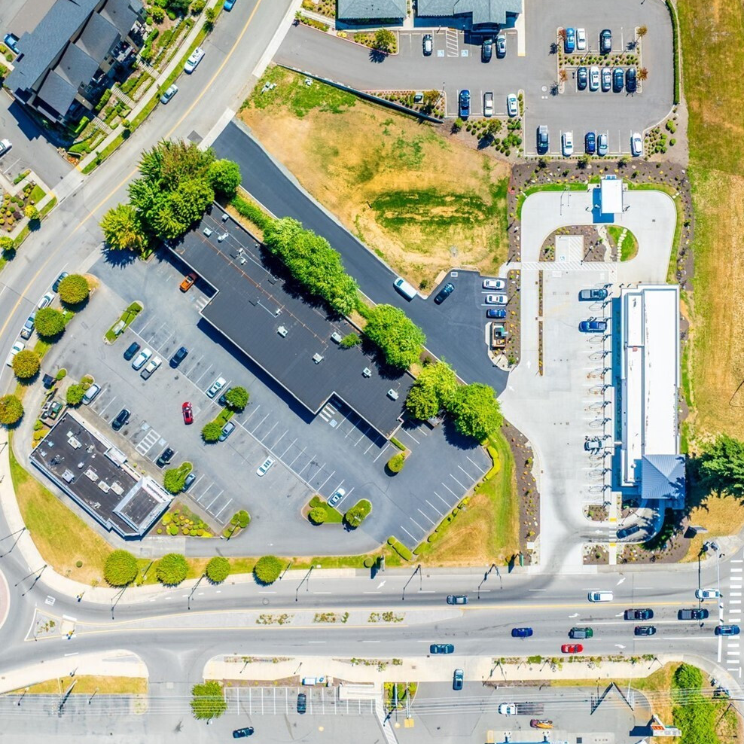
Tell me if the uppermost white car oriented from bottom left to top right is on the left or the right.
left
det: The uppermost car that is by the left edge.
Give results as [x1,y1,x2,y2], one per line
[1,32,18,51]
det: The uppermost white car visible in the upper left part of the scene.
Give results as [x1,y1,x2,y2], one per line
[185,47,205,71]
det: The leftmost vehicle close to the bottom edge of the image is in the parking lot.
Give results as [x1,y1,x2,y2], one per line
[232,725,255,739]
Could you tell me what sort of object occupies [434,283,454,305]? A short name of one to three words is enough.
car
